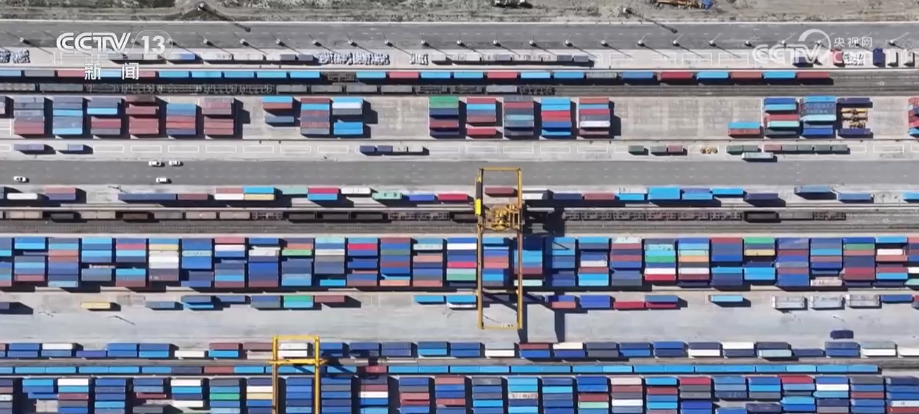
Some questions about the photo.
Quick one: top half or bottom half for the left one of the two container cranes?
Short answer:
bottom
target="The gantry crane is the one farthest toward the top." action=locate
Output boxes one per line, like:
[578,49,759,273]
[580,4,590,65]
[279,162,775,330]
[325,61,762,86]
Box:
[473,167,524,330]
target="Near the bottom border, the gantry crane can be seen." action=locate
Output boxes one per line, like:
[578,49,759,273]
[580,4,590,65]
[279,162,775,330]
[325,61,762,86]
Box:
[266,335,329,414]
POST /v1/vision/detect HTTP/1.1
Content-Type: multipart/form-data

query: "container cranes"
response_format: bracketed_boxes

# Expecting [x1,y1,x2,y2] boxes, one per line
[473,167,524,330]
[266,335,329,414]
